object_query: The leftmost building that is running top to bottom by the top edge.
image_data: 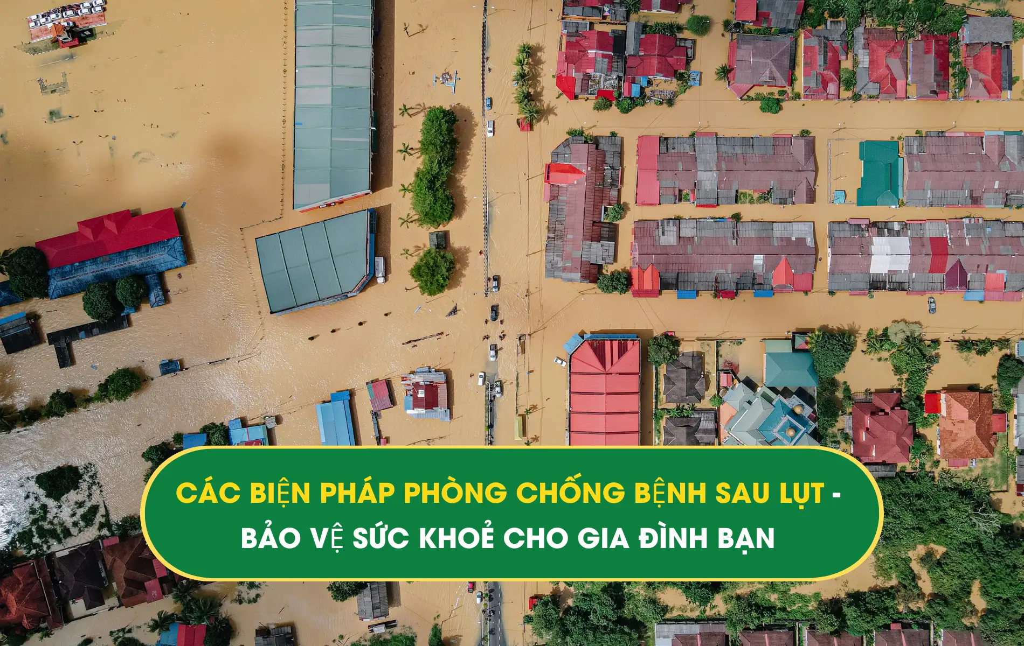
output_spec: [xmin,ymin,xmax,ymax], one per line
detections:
[293,0,377,212]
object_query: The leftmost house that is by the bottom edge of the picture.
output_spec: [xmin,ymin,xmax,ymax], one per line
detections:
[0,555,69,629]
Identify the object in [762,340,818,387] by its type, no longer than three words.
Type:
building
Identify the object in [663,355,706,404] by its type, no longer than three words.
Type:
house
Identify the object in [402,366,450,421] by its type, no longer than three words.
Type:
shed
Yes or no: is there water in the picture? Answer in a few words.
Yes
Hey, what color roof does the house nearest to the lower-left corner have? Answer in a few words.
red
